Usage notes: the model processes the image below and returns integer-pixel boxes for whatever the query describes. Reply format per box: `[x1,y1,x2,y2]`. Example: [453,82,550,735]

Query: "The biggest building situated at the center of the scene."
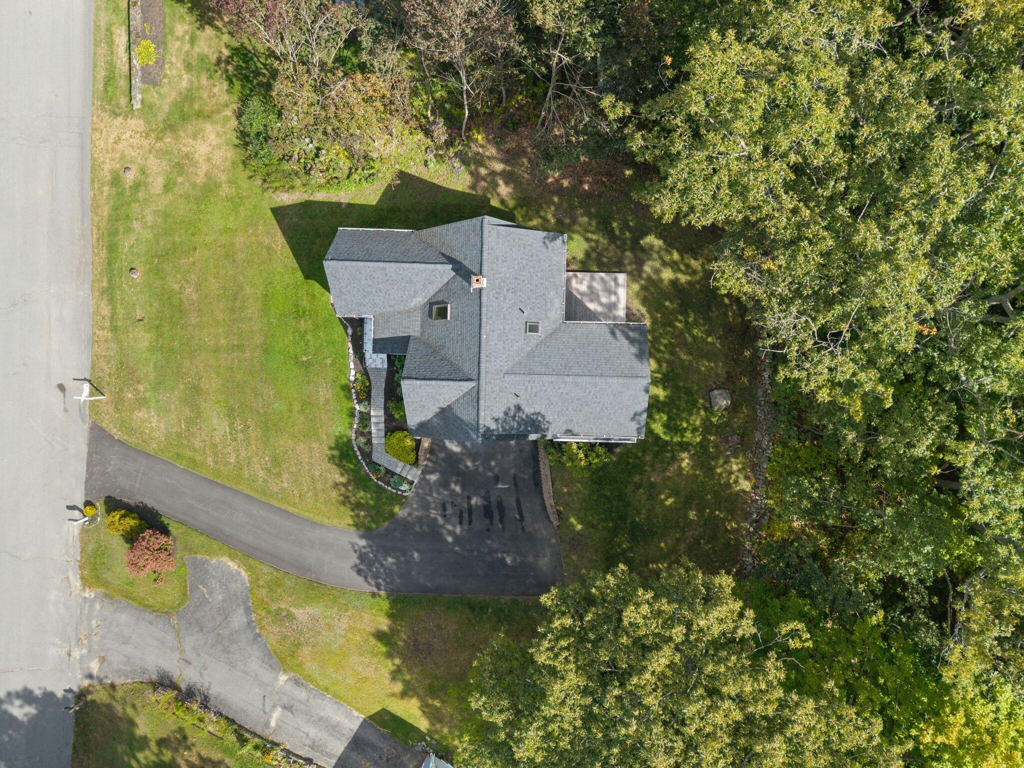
[323,215,652,445]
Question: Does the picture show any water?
No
